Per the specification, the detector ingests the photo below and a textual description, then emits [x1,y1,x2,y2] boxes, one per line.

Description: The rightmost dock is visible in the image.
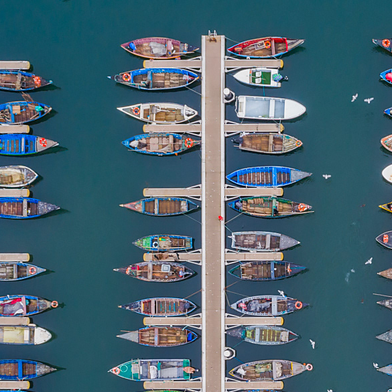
[143,29,285,392]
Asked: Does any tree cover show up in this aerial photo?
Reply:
No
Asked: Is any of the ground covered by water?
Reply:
Yes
